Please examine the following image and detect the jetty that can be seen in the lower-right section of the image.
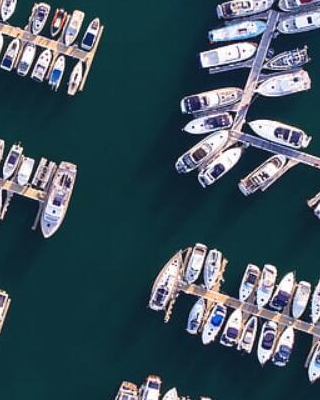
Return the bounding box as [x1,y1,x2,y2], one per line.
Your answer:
[162,250,320,369]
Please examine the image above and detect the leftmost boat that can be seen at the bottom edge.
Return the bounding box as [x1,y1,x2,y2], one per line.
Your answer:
[115,378,138,400]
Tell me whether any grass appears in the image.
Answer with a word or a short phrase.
No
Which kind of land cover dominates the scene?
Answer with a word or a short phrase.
water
